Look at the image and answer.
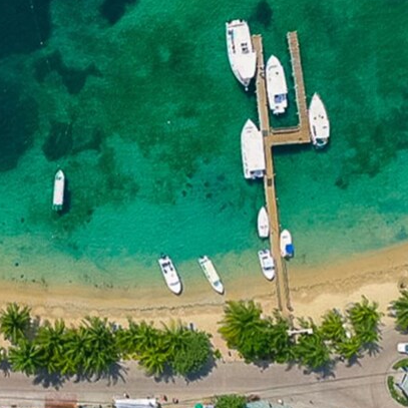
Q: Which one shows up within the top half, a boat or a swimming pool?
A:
boat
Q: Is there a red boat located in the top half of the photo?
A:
No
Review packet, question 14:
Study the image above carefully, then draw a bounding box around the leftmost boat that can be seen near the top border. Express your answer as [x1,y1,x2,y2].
[224,18,258,88]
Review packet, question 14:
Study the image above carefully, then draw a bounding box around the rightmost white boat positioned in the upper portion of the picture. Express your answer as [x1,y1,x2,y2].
[302,92,331,152]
